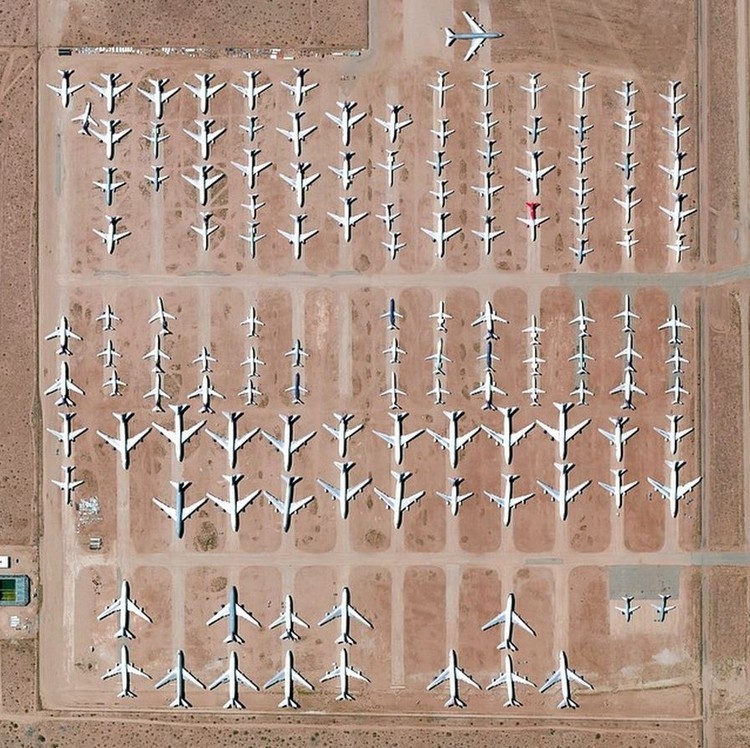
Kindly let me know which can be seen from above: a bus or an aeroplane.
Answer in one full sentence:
There is an aeroplane in the scene.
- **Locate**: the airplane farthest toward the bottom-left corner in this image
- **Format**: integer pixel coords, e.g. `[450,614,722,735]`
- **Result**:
[99,645,149,697]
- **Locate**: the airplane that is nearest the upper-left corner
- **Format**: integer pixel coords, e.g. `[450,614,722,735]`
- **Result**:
[45,69,83,105]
